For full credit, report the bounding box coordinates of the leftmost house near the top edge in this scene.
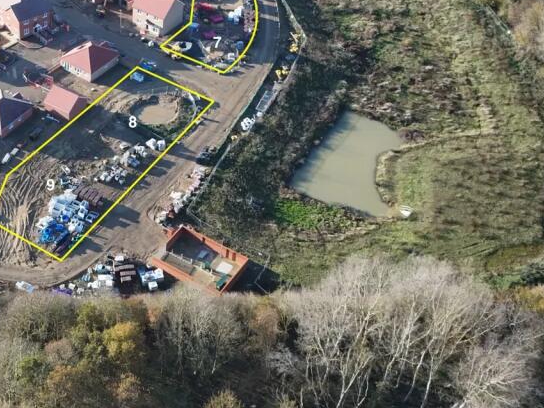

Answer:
[0,0,53,42]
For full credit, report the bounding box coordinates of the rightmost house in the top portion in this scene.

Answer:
[132,0,188,41]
